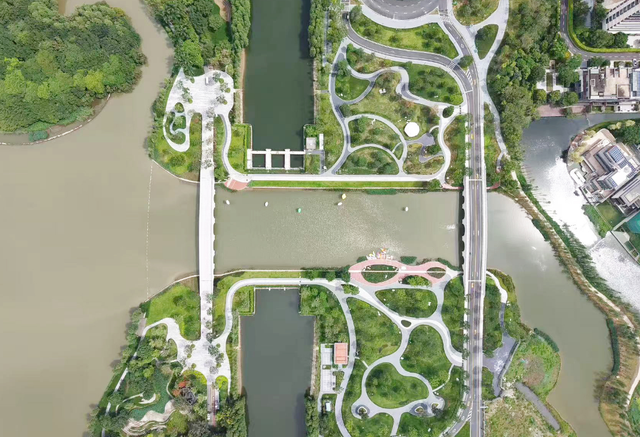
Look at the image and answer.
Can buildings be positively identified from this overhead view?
Yes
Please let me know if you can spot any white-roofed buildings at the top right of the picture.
Yes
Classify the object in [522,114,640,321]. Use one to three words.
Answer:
pond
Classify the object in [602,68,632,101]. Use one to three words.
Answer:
house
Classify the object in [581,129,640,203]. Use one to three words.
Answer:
house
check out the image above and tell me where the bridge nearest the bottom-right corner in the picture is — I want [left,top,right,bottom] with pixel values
[462,179,489,281]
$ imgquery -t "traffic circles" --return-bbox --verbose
[352,0,449,29]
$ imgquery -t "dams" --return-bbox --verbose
[248,148,304,169]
